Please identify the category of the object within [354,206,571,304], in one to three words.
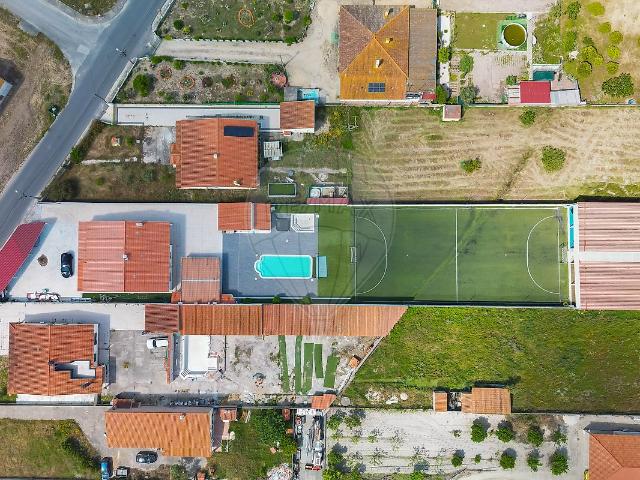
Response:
soccer field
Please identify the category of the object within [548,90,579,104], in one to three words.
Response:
shed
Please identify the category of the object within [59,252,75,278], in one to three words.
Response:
car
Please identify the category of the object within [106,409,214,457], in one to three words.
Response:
house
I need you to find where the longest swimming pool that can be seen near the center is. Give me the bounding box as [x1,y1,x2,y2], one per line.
[255,255,312,278]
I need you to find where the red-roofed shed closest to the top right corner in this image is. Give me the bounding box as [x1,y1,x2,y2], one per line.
[518,81,550,104]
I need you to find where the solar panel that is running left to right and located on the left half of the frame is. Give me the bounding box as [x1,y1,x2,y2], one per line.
[223,125,255,138]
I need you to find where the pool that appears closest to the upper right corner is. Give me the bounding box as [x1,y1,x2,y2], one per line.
[532,65,562,81]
